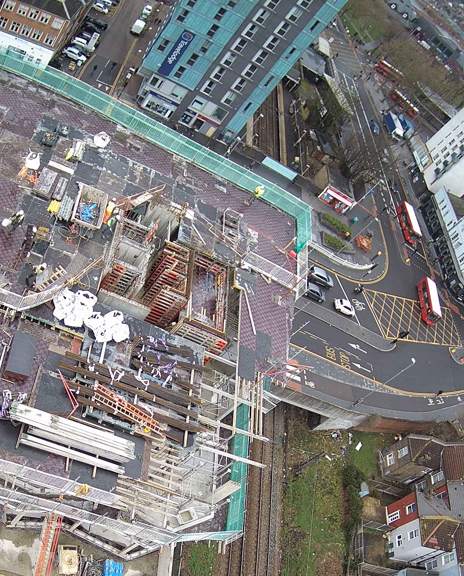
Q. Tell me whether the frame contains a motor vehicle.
Yes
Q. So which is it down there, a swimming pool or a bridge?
bridge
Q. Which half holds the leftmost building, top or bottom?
top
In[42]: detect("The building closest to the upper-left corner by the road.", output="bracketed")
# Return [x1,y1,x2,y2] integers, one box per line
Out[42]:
[0,0,94,67]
